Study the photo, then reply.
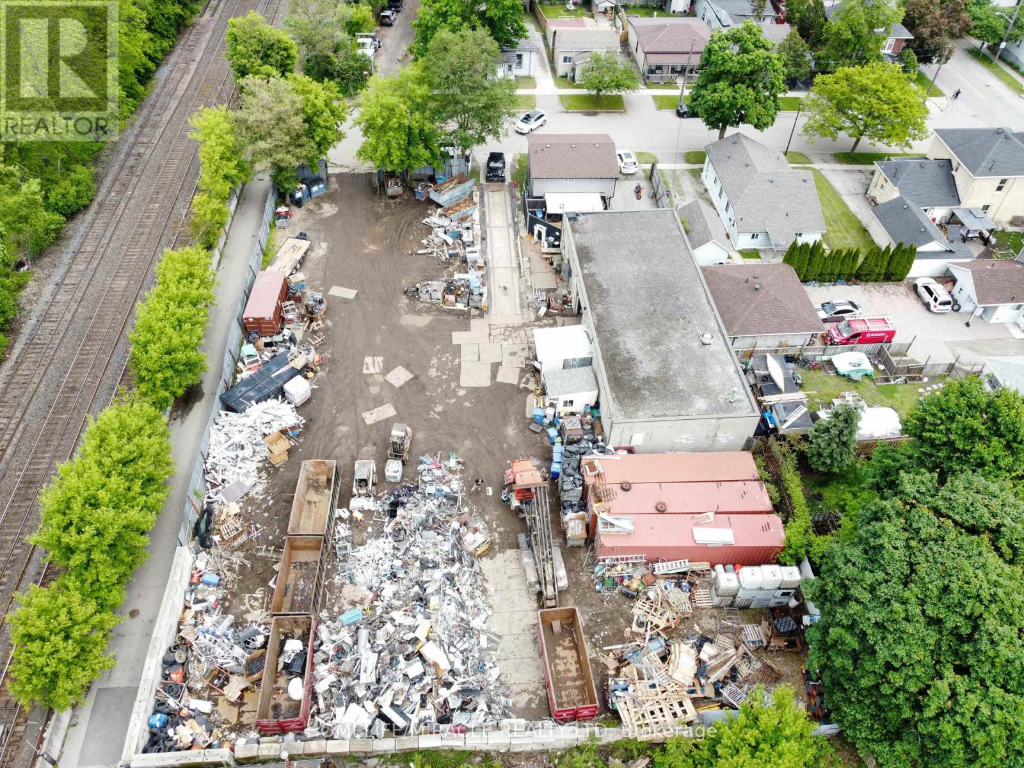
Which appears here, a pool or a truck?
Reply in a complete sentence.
Visible in the photo is a truck.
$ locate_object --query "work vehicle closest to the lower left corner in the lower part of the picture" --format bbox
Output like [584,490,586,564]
[344,459,378,516]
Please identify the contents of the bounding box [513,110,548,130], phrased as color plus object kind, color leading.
white car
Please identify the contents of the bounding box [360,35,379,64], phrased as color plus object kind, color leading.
white vehicle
